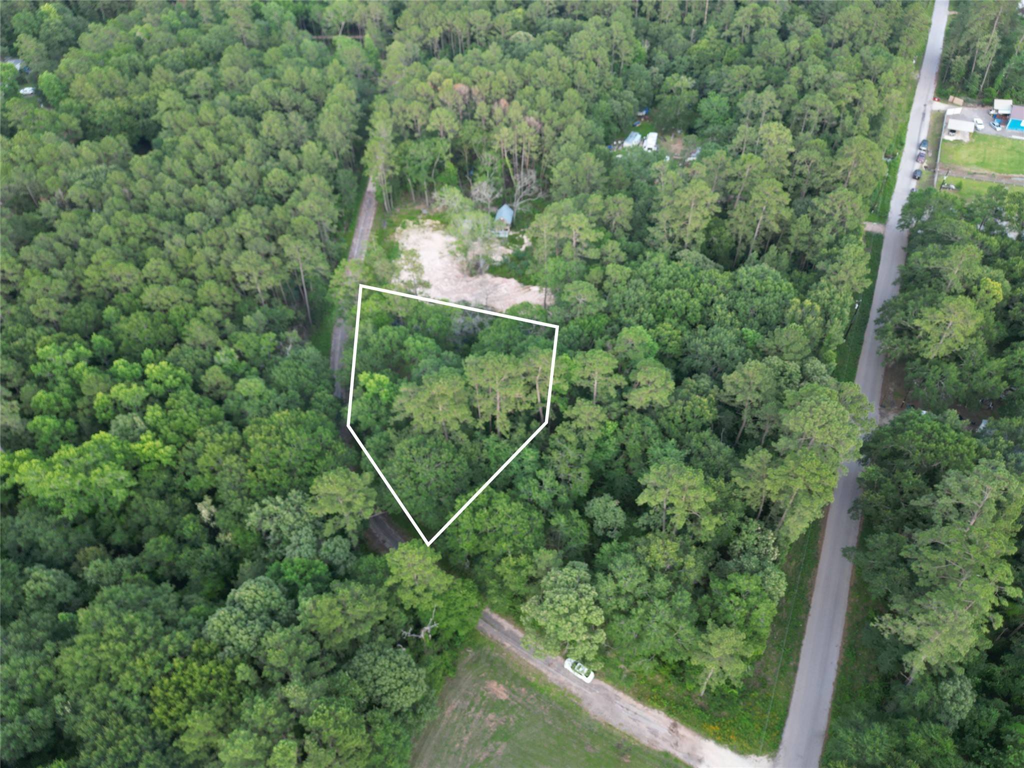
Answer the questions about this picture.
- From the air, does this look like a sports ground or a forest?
forest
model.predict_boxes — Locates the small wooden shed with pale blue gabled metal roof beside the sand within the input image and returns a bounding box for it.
[495,207,513,236]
